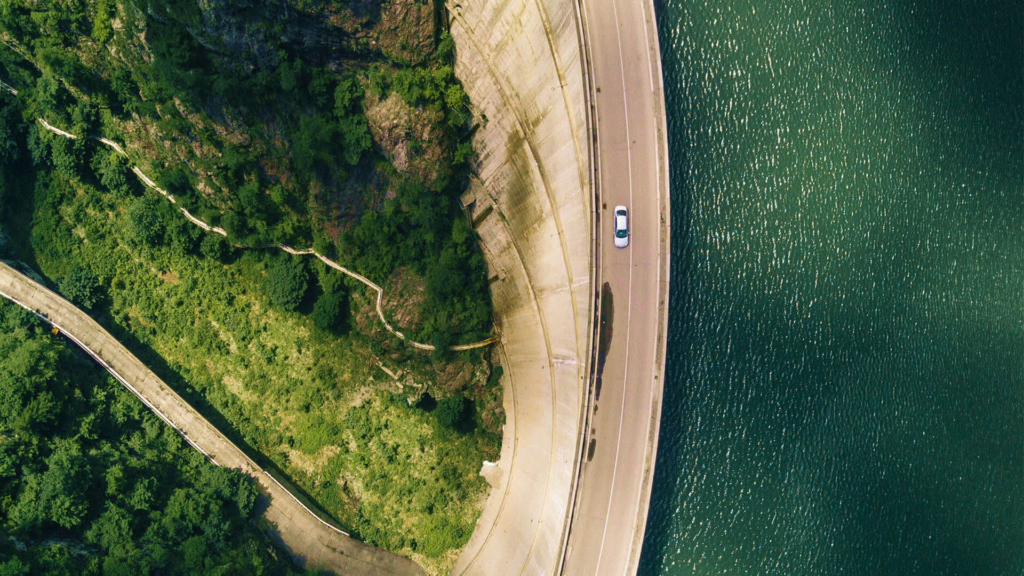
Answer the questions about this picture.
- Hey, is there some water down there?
Yes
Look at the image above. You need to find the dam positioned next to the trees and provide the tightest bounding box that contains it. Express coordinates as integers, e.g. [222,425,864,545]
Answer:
[444,0,670,576]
